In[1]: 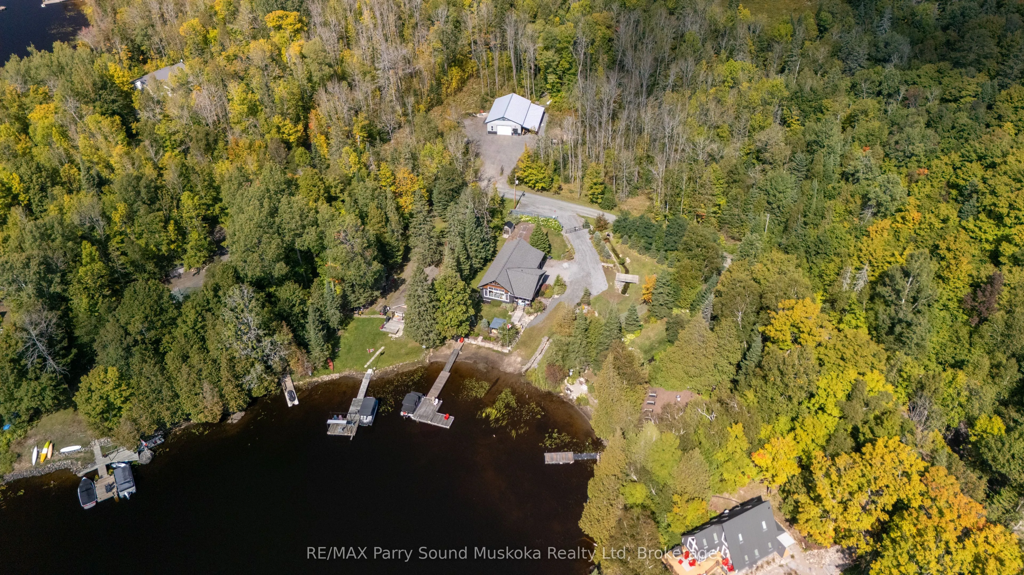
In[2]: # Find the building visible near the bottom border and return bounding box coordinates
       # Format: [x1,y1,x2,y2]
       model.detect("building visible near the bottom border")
[673,495,796,575]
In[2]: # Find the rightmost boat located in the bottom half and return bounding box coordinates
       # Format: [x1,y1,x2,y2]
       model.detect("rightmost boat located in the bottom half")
[400,390,425,424]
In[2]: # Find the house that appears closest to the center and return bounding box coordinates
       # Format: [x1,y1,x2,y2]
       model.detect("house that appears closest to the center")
[476,236,547,313]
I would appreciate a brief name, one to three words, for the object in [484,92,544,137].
building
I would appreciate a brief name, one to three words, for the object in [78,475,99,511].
boat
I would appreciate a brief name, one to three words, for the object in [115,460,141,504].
boat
